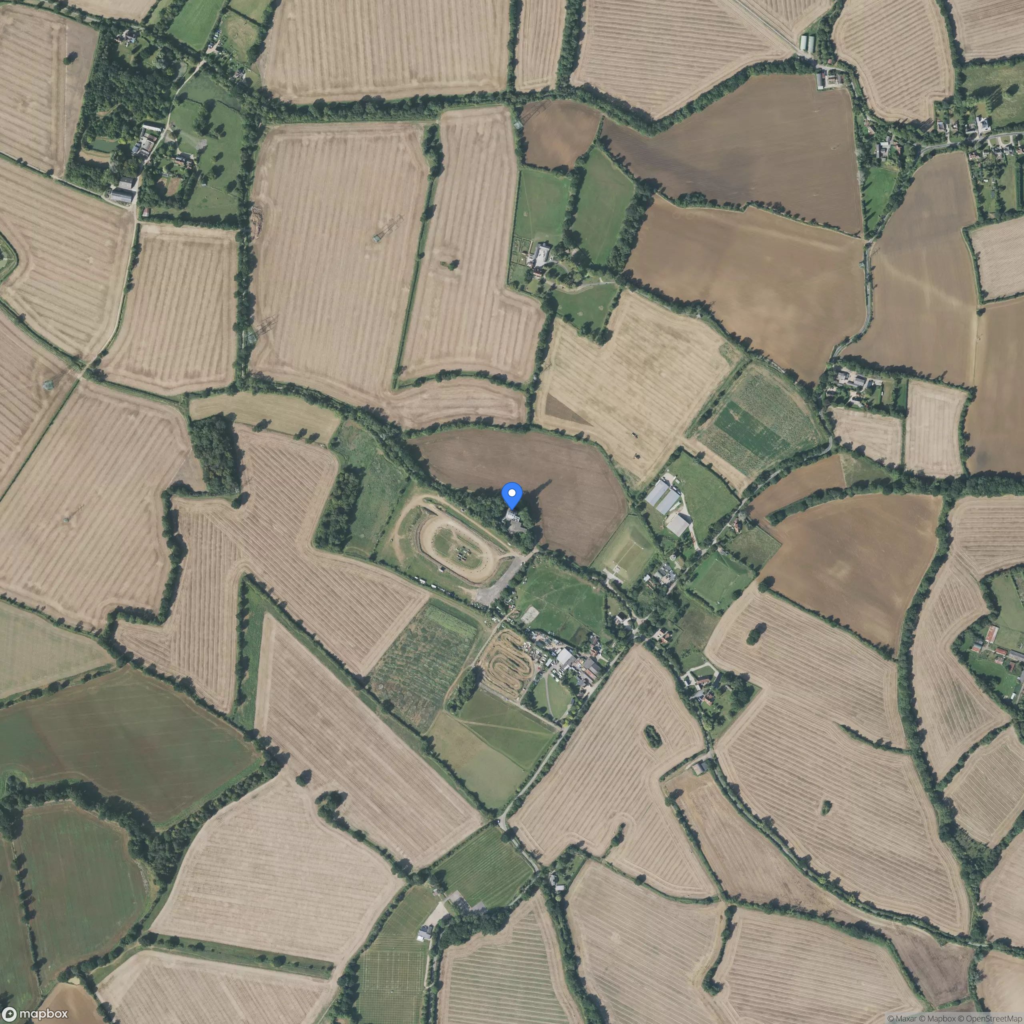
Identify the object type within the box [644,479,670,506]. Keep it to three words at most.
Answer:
barn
